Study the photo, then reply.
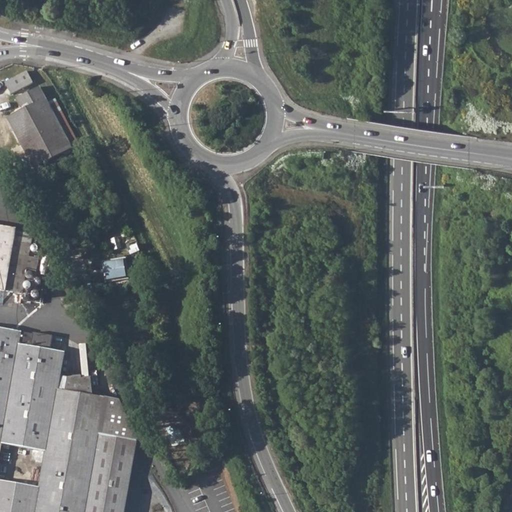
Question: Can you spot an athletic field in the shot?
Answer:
No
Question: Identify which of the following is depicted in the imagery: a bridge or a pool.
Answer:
bridge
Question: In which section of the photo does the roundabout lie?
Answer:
top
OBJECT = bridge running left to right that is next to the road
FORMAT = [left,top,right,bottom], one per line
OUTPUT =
[347,118,478,171]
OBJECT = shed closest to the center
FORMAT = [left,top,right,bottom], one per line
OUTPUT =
[104,258,126,280]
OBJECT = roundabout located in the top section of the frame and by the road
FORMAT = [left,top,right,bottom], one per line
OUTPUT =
[170,58,286,174]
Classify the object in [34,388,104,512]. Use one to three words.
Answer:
building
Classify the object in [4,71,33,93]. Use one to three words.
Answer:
house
